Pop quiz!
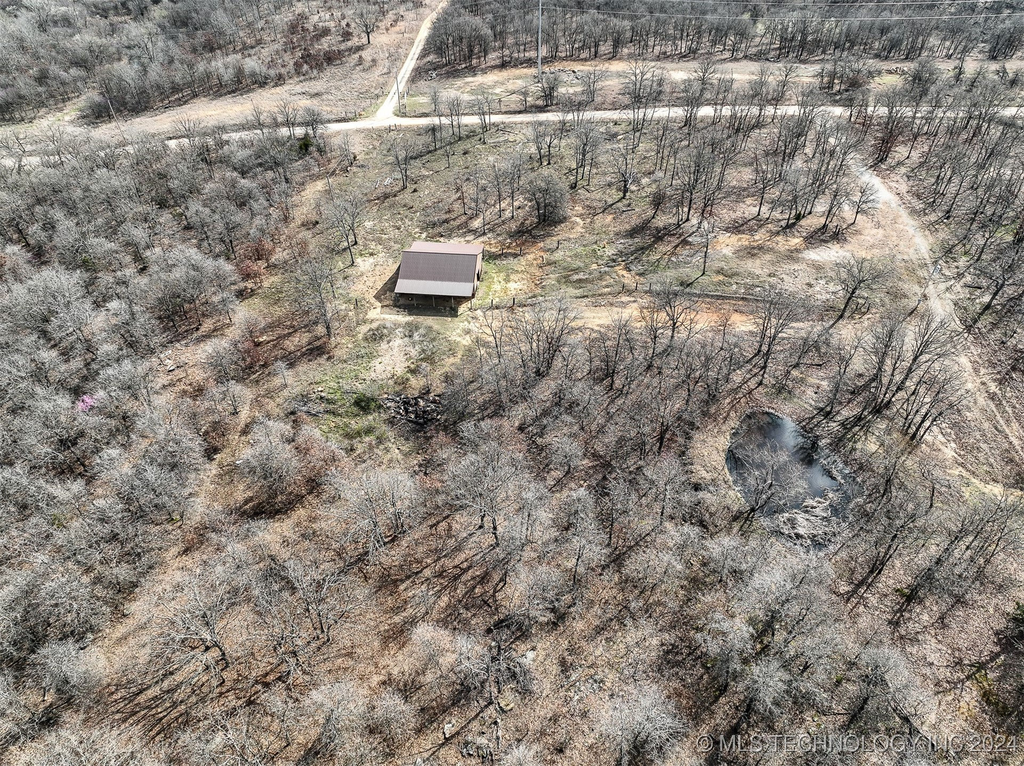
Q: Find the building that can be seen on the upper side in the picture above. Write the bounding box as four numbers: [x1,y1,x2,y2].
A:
[393,242,486,309]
